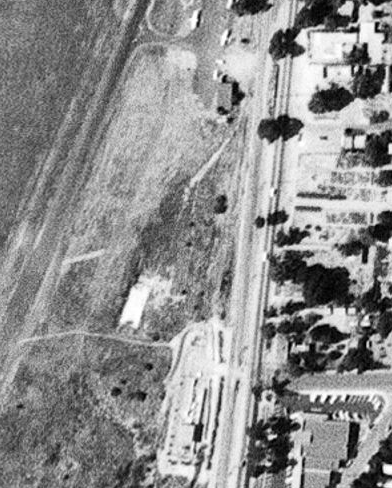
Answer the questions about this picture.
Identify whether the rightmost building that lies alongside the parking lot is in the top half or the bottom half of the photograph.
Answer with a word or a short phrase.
bottom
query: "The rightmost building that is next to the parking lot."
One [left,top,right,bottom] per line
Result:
[305,416,351,488]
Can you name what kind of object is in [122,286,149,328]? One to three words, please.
shed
